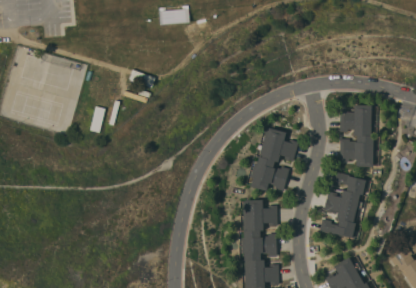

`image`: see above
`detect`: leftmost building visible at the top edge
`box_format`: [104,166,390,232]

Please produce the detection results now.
[160,6,190,26]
